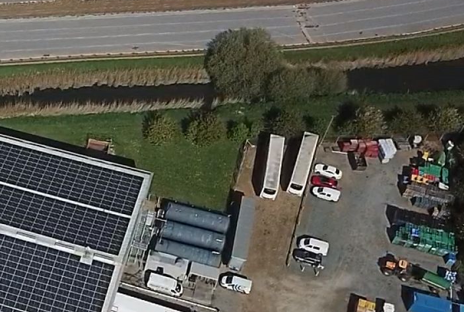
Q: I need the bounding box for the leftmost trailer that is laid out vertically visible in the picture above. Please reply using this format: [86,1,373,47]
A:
[228,193,258,267]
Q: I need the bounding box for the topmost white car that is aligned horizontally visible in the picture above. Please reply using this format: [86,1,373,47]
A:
[313,164,341,180]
